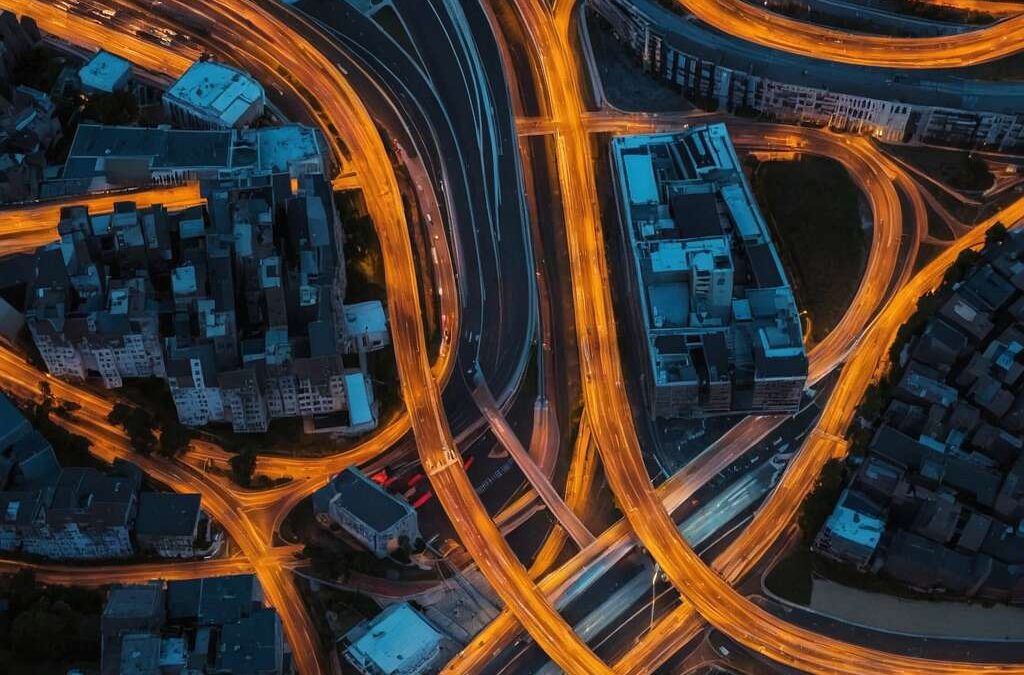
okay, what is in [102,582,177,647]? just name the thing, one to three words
building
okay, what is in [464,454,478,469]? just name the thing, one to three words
vehicle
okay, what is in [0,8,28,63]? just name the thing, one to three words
house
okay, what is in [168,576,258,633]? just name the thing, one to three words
building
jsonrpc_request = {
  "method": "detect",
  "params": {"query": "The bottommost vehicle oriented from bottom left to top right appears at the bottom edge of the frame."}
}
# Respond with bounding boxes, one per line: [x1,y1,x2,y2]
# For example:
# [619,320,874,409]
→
[717,640,732,659]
